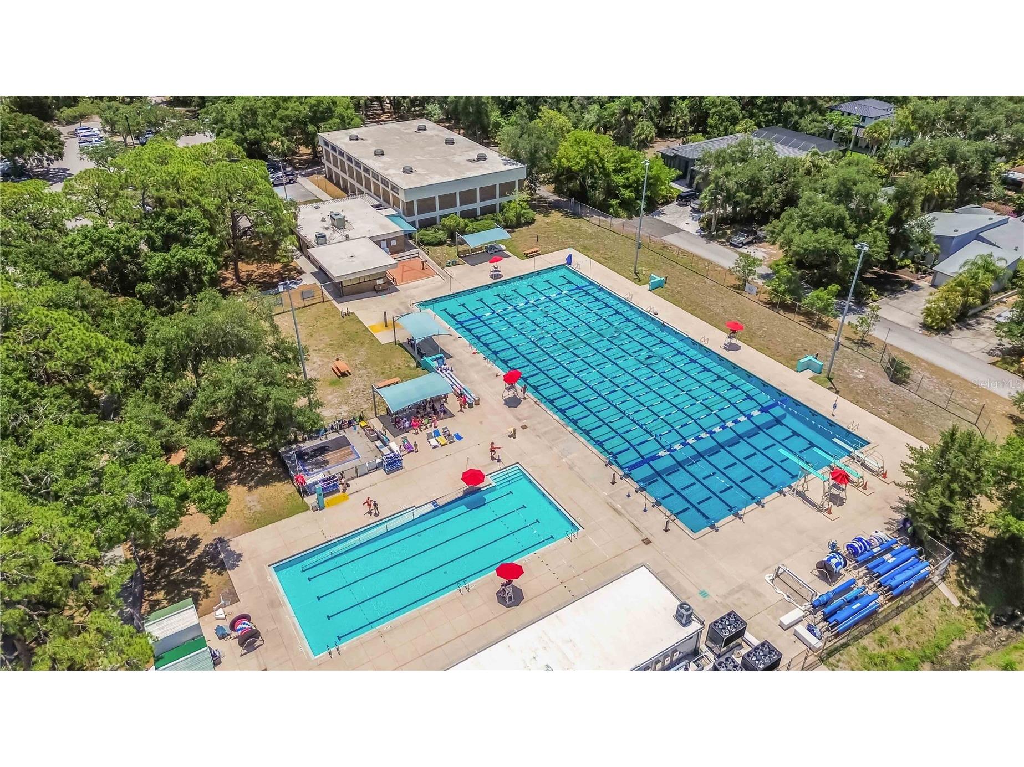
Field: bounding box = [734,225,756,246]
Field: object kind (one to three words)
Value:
car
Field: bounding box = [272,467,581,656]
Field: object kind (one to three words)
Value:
swimming pool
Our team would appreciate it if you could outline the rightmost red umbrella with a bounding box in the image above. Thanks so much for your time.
[454,464,483,488]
